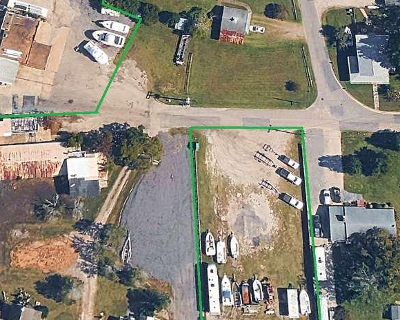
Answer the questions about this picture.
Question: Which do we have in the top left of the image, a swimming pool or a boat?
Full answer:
The one visible in the top left of the image is a boat.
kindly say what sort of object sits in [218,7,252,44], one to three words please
house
